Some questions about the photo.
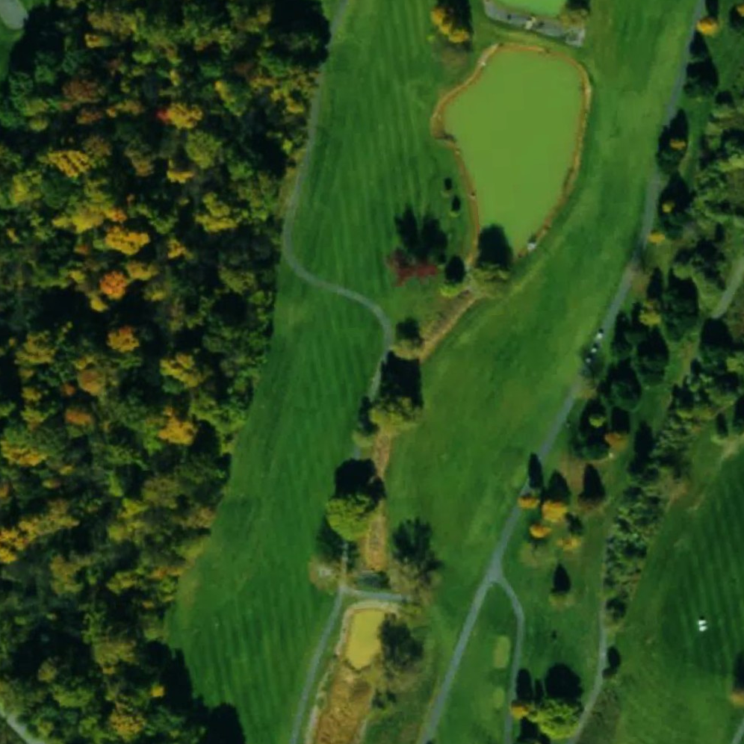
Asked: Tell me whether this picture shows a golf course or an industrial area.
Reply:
golf course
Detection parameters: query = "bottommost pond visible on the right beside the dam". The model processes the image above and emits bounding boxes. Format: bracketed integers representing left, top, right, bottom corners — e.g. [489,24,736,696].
[437,39,590,271]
